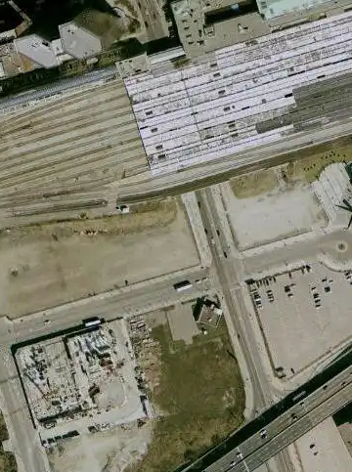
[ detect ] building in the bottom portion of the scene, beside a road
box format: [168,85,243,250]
[198,300,222,328]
